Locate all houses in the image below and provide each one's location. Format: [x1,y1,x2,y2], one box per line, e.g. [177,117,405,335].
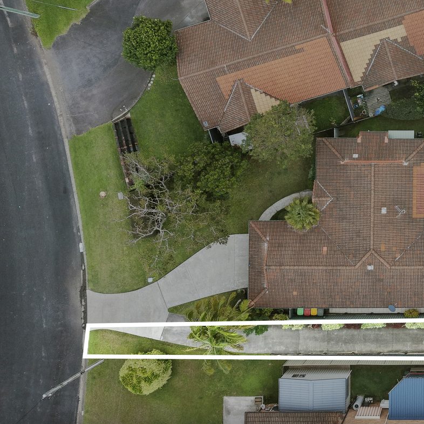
[248,131,424,309]
[244,405,424,424]
[174,0,424,134]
